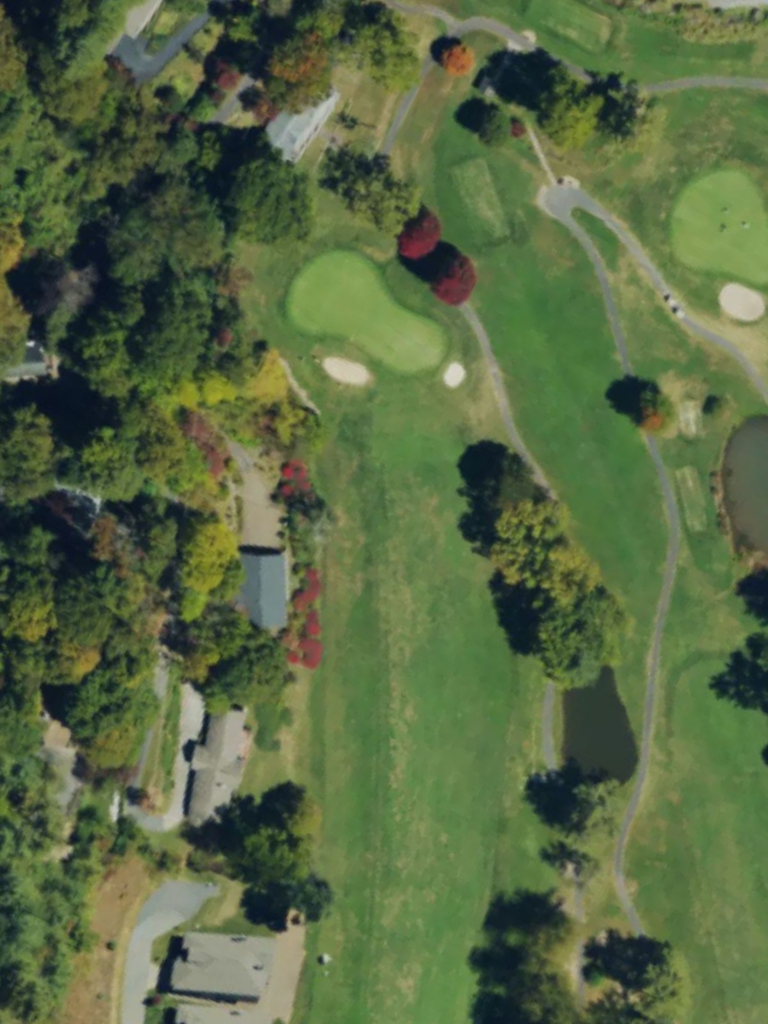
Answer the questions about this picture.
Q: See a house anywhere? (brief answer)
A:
Yes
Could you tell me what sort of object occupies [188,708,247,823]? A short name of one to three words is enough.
house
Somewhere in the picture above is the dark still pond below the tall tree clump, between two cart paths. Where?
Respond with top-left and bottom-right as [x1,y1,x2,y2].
[562,665,639,779]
